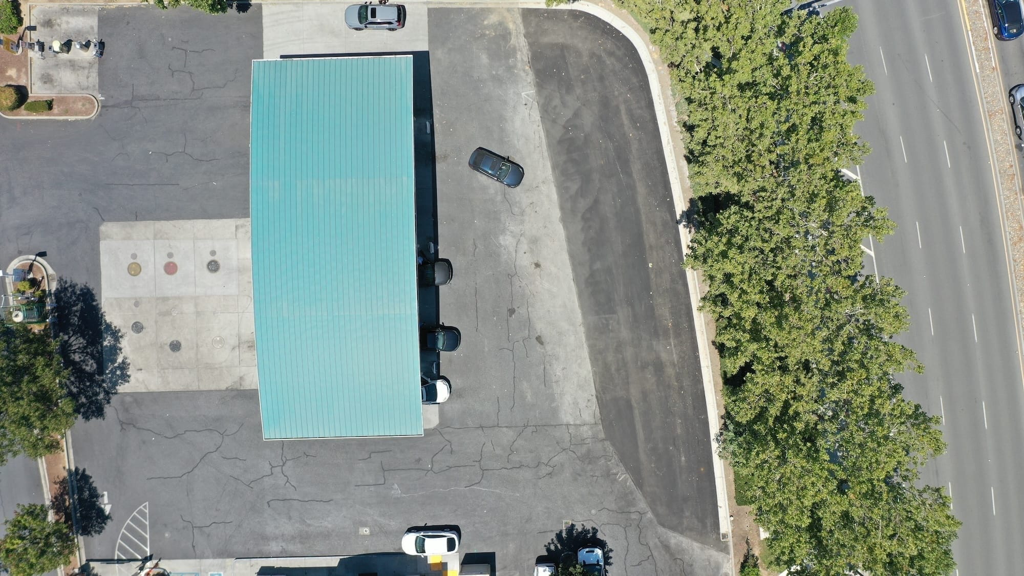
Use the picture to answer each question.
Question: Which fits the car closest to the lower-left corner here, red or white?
white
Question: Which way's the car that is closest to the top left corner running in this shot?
from left to right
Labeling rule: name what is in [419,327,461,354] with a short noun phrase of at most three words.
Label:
car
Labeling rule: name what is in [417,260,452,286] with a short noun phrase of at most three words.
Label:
car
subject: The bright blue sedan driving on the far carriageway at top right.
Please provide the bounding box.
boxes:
[986,0,1021,43]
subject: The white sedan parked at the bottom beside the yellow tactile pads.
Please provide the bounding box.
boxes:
[402,529,460,557]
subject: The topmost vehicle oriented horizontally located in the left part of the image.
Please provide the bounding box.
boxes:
[345,2,406,32]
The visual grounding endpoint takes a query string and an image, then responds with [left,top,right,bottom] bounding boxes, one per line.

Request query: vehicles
[533,562,557,576]
[986,0,1021,43]
[419,327,461,354]
[402,529,460,557]
[579,546,605,576]
[466,147,525,186]
[417,260,452,286]
[421,372,451,406]
[345,2,406,32]
[1011,87,1024,143]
